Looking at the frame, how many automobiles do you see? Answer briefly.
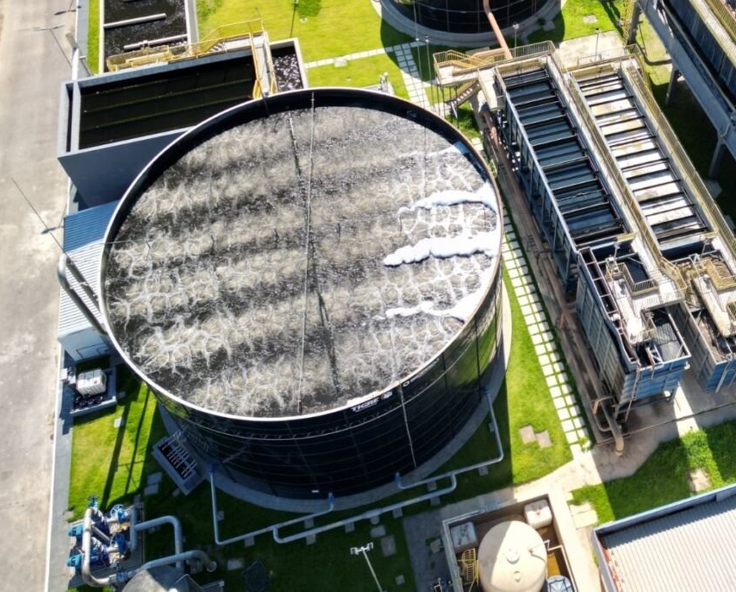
zero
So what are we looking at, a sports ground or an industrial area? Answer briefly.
industrial area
